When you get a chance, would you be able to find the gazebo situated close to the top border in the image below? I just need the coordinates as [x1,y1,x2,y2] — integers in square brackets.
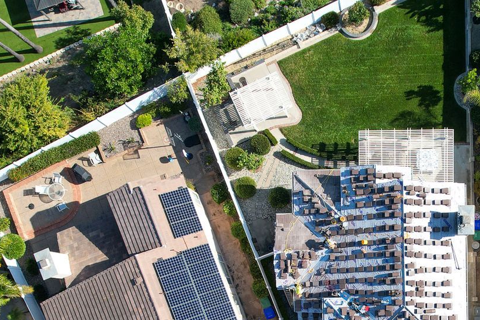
[34,0,92,23]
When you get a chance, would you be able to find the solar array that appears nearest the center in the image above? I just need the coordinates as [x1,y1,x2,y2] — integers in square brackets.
[159,188,202,238]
